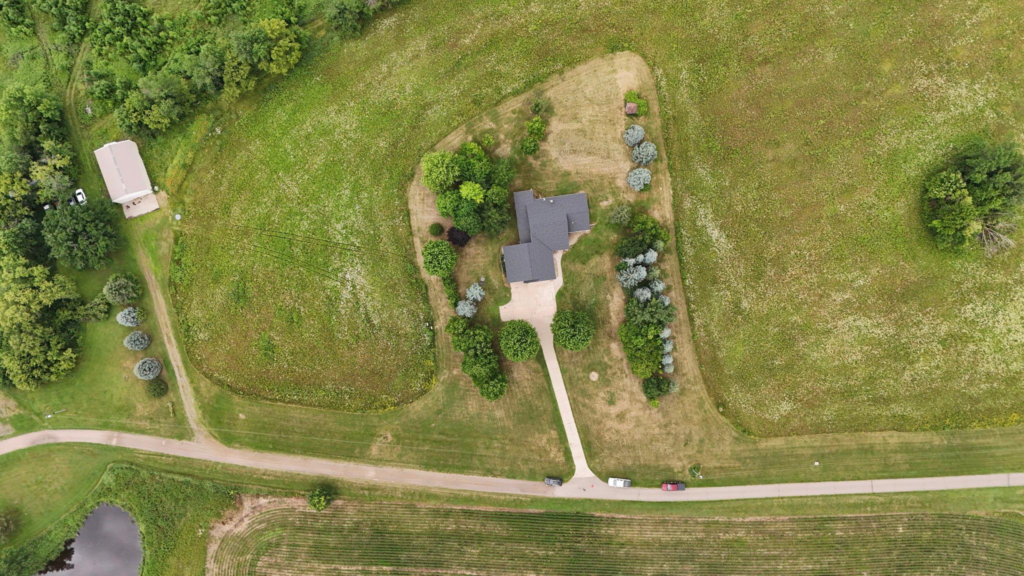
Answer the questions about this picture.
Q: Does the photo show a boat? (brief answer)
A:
No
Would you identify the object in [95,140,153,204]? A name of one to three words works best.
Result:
barn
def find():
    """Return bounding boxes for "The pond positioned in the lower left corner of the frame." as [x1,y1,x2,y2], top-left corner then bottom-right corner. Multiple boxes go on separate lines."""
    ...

[37,501,144,576]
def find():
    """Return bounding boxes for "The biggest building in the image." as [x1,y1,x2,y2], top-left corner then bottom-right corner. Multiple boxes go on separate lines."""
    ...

[503,190,590,284]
